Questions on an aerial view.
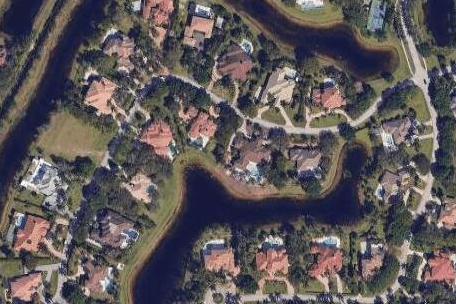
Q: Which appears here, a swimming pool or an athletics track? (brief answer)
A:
swimming pool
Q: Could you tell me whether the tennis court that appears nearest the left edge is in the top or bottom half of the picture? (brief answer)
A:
top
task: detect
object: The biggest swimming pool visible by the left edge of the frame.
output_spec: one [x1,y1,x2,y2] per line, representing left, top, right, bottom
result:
[22,155,64,197]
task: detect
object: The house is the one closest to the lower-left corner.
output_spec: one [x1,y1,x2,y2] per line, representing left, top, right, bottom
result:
[10,271,44,303]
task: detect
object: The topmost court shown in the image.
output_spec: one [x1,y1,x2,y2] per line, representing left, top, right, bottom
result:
[367,0,387,36]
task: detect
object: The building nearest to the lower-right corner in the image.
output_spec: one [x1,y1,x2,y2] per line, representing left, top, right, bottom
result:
[425,249,456,287]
